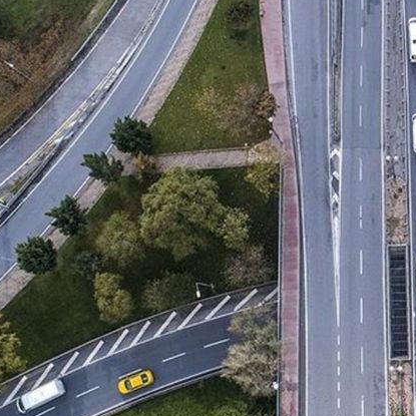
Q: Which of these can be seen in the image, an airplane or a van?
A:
van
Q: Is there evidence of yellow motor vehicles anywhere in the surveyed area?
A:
Yes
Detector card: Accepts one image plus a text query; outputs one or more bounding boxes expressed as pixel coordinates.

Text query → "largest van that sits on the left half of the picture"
[21,377,71,410]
